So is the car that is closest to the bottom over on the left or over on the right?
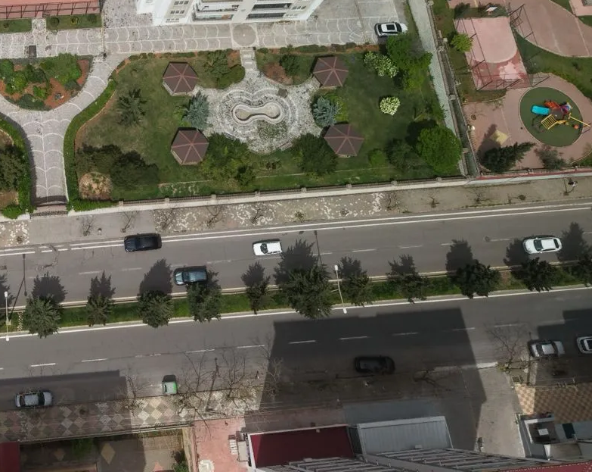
left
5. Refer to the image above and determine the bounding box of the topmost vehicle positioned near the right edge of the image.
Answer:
[525,238,562,254]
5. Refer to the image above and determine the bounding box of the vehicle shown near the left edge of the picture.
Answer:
[14,389,53,409]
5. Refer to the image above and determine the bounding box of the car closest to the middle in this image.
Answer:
[252,239,285,256]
